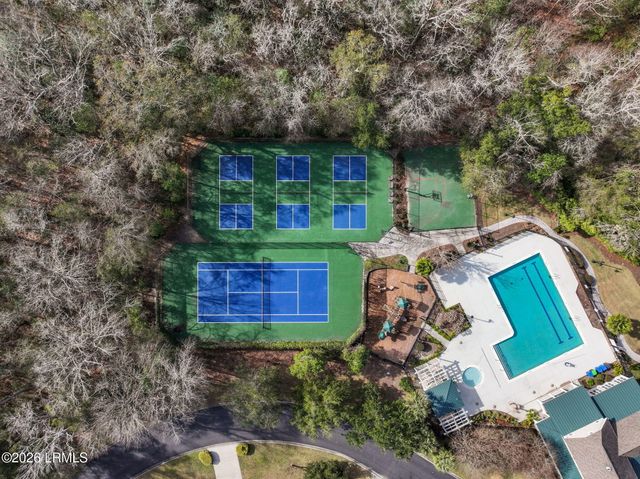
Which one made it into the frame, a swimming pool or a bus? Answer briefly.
swimming pool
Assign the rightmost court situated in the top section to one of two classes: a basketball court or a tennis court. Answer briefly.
basketball court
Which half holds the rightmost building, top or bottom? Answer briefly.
bottom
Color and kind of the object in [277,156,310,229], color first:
blue sports court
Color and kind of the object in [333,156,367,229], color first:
blue sports court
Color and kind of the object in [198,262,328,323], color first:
blue tennis court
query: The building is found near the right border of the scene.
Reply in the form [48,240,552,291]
[532,373,640,479]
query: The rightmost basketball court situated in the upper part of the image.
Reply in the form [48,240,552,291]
[404,147,476,231]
